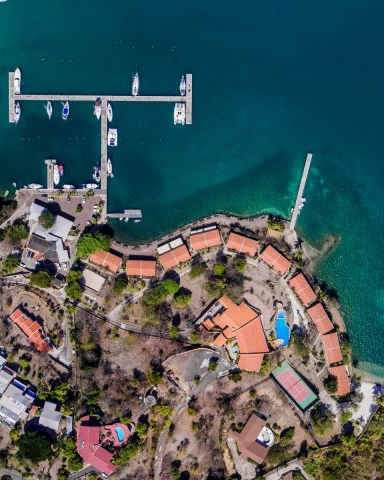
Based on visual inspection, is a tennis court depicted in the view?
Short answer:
Yes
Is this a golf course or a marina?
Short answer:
marina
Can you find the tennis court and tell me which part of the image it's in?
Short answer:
bottom right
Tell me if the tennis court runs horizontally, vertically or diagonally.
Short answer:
diagonally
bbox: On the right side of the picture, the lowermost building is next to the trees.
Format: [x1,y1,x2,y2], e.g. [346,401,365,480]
[227,412,268,460]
